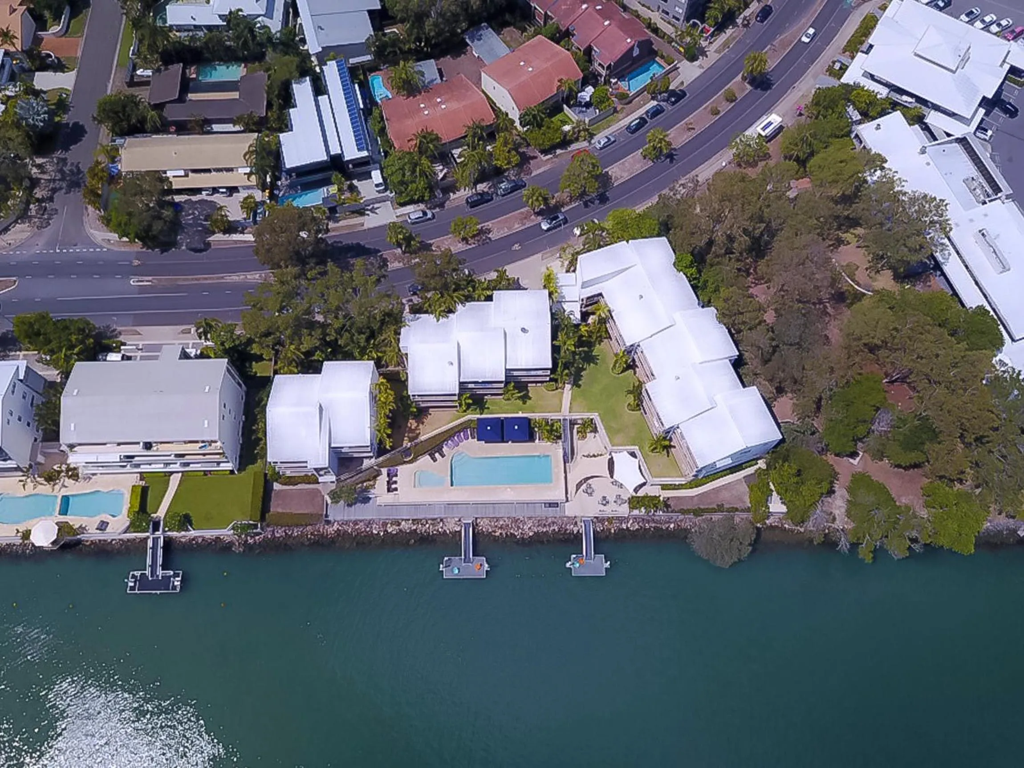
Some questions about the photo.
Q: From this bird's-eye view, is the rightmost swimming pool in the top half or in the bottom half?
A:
top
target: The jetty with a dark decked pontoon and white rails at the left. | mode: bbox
[121,528,183,593]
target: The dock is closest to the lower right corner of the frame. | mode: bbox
[566,512,610,576]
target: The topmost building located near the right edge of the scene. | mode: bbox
[840,0,1024,136]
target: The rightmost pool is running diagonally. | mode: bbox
[626,58,666,93]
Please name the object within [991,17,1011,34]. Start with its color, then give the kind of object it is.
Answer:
white car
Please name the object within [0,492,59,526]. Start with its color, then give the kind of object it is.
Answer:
blue swimming pool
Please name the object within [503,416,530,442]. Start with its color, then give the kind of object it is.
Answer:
blue umbrella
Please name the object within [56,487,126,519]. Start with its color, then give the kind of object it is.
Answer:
blue swimming pool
